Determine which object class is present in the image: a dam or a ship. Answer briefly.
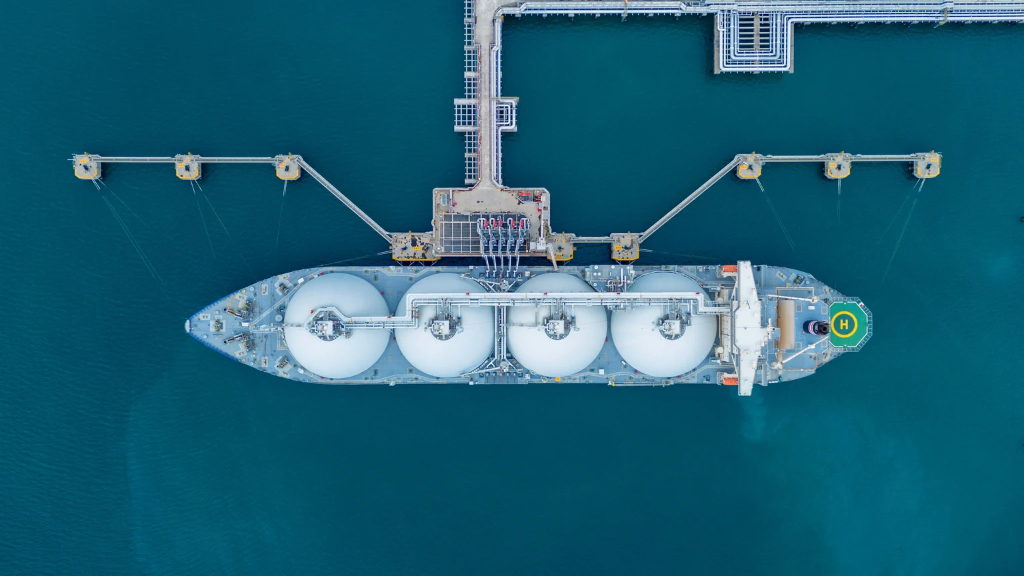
ship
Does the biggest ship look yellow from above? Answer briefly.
No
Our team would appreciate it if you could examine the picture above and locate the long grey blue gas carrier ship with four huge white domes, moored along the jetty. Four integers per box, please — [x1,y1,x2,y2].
[185,261,873,396]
